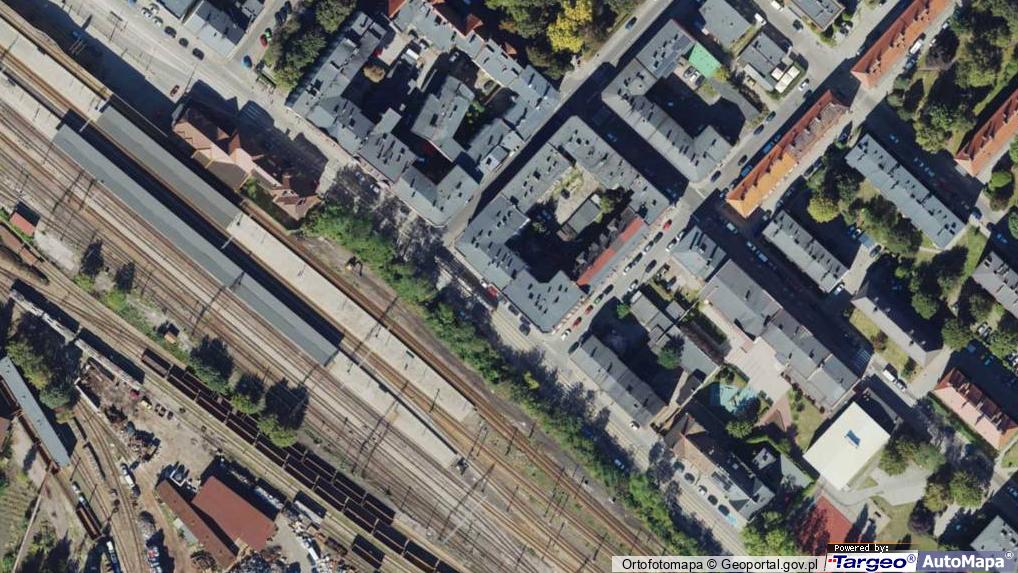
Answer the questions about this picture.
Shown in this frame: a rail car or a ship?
rail car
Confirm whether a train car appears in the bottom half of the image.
Yes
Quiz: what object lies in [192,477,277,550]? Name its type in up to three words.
shed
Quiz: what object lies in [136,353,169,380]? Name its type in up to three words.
rail car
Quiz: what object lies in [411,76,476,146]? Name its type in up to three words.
house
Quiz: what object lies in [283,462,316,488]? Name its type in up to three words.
rail car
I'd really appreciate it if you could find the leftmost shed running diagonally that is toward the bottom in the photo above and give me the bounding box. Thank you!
[0,355,71,470]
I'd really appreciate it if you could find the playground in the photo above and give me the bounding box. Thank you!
[712,385,759,418]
